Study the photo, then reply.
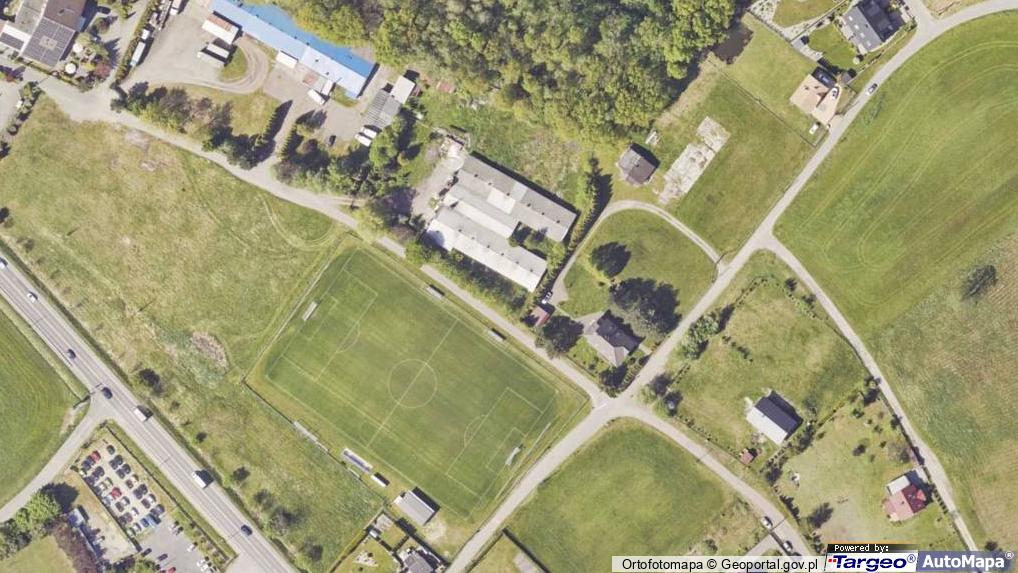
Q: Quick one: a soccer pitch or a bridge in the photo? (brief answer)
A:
soccer pitch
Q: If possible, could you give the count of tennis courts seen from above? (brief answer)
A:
zero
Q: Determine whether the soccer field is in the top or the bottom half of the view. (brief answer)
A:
bottom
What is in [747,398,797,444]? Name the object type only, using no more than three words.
house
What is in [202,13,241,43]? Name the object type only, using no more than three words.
shed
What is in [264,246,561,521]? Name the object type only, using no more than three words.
soccer field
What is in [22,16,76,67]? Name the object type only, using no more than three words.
building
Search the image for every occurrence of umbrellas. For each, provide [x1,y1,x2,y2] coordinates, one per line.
[66,63,77,74]
[73,43,83,53]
